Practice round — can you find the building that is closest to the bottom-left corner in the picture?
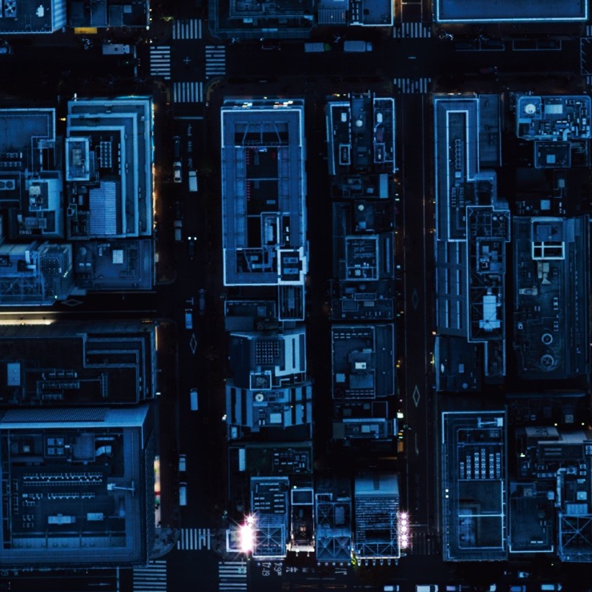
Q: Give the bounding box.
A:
[0,405,155,569]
